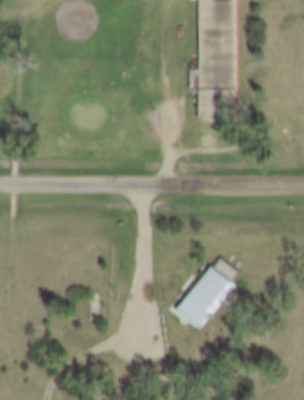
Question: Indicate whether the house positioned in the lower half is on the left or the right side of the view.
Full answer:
The house positioned in the lower half sits on the right side.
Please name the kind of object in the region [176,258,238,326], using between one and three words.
house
